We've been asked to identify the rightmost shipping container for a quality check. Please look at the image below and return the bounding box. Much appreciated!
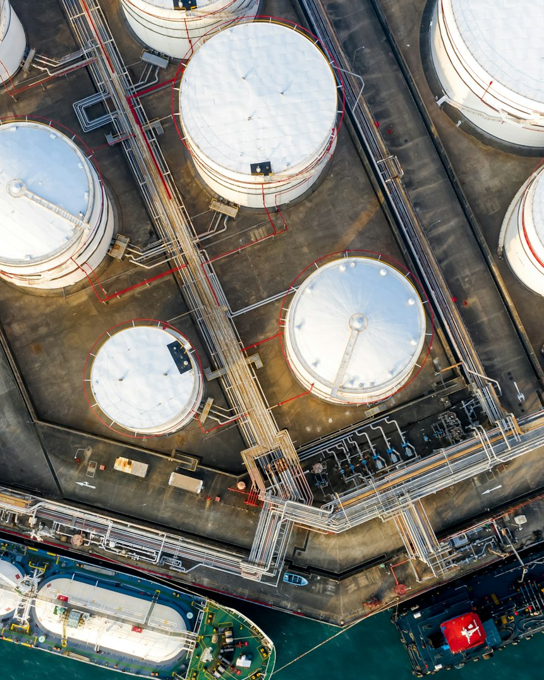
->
[168,469,206,495]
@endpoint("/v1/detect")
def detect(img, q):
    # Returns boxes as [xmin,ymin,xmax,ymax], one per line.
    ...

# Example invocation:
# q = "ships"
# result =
[0,537,277,680]
[393,550,544,674]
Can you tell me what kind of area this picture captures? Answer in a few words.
industrial area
